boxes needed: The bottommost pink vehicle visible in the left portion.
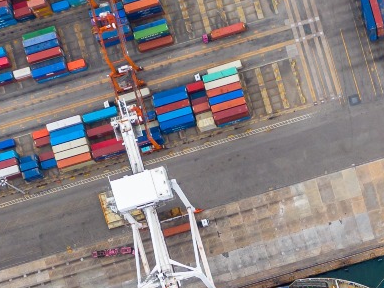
[90,240,134,260]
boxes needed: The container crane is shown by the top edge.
[84,0,146,77]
